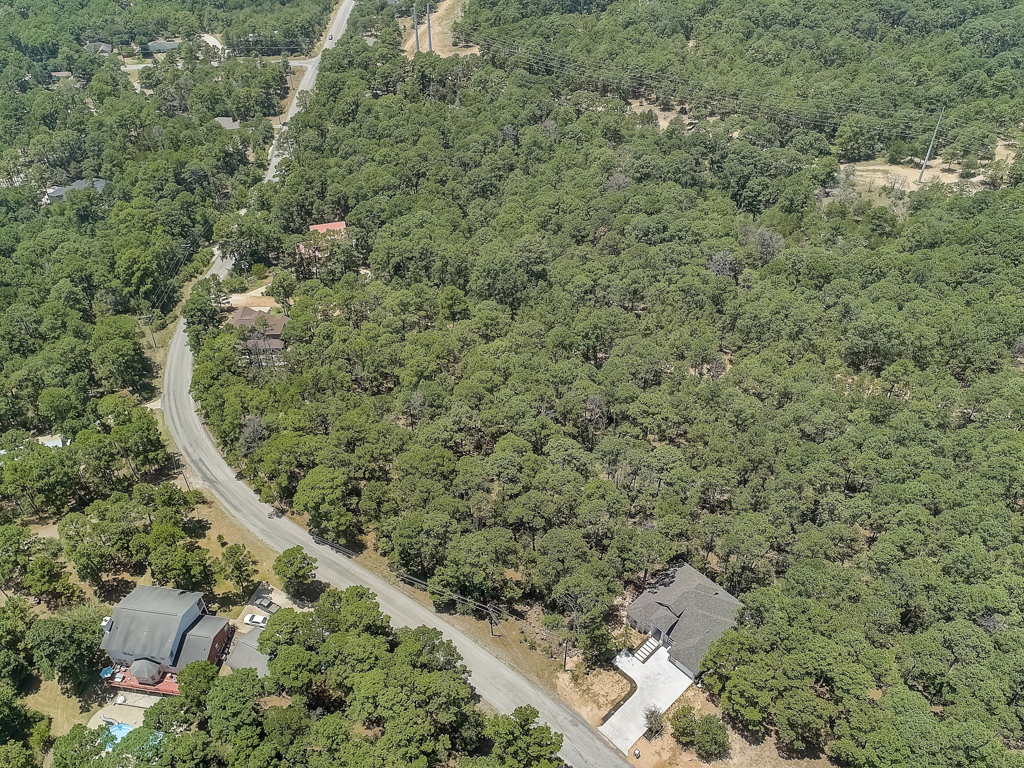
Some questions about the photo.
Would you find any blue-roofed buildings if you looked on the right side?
No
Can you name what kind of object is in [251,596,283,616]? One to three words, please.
vehicle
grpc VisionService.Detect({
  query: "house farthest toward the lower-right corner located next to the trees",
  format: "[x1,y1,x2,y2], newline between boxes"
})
[625,559,752,680]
